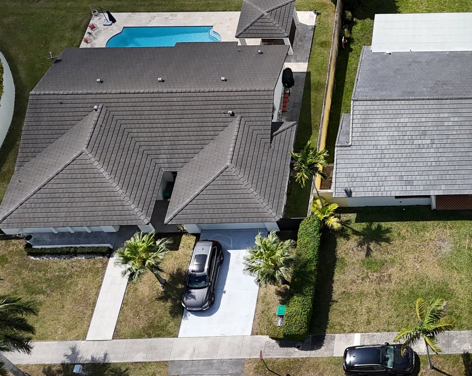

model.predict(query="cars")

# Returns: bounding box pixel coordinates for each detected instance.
[180,239,225,311]
[341,342,417,376]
